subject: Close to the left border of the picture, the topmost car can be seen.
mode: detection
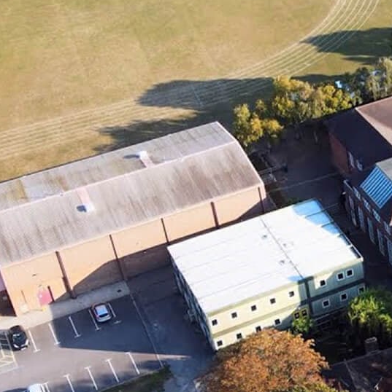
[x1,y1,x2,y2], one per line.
[9,327,28,353]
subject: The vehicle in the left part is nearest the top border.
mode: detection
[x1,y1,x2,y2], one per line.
[92,301,112,324]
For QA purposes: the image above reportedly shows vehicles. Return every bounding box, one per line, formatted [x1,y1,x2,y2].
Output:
[92,301,112,324]
[24,382,43,392]
[9,327,28,353]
